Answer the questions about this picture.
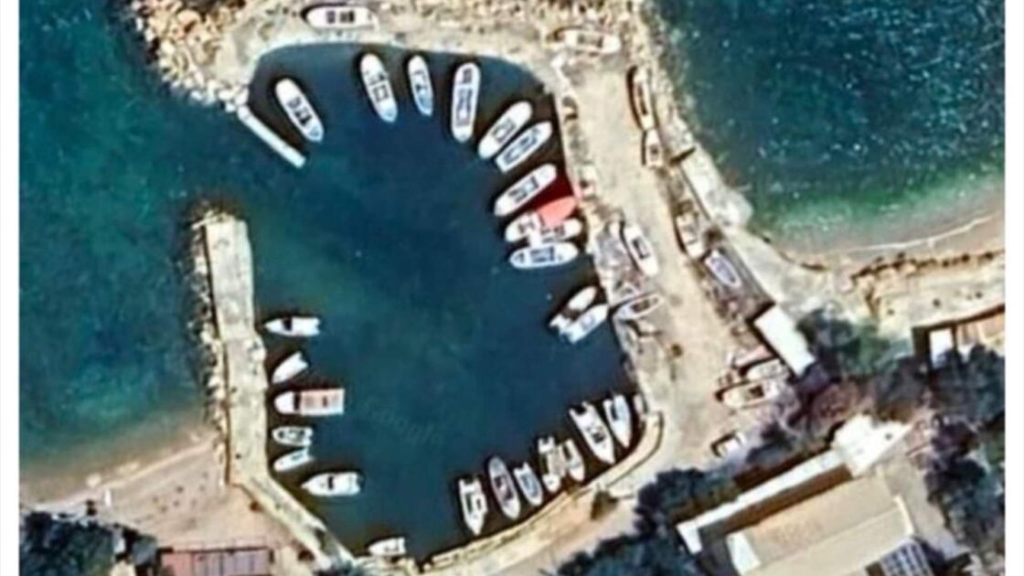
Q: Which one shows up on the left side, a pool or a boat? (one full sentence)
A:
Looking on the left side, you will find a boat.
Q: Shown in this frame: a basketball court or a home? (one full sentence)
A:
The image shows a home.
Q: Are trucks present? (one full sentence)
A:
No, there's no truck here.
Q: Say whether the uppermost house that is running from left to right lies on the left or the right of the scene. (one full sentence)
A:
It is on the right.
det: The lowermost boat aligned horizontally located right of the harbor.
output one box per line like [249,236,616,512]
[722,379,781,408]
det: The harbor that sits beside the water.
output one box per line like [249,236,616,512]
[237,35,662,576]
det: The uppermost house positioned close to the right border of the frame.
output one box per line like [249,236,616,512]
[914,305,1024,368]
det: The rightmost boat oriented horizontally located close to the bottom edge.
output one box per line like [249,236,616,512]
[353,538,410,563]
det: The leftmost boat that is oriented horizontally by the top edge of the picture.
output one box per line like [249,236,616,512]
[306,4,377,28]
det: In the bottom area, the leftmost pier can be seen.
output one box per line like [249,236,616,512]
[206,222,358,576]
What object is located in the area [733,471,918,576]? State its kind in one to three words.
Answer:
house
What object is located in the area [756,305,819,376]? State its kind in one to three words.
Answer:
shed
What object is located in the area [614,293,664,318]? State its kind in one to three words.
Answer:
boat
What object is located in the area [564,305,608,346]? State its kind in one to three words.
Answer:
boat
